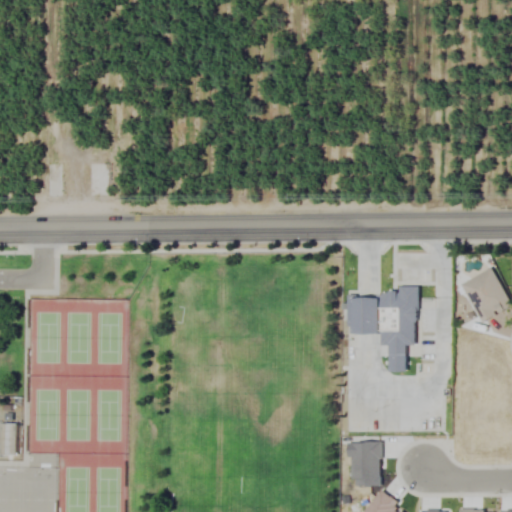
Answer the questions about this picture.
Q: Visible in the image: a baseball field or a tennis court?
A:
tennis court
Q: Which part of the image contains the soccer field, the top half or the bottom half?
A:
bottom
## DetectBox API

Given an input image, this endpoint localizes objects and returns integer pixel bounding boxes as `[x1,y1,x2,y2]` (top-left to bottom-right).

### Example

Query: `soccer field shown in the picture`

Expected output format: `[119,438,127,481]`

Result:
[130,253,342,512]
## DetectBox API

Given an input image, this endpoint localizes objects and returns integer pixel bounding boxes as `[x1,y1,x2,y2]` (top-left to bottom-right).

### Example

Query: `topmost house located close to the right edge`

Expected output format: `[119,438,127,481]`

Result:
[464,268,512,318]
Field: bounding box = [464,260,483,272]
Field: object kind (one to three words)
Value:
swimming pool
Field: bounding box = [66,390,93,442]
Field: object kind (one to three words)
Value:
tennis court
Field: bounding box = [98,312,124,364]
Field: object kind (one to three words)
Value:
tennis court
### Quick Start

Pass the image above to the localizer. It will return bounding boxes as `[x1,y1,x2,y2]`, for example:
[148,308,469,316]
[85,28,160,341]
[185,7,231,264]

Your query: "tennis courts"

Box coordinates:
[66,390,93,442]
[34,390,60,441]
[95,390,122,442]
[94,468,122,512]
[67,312,92,364]
[98,312,124,364]
[36,312,62,364]
[66,467,90,512]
